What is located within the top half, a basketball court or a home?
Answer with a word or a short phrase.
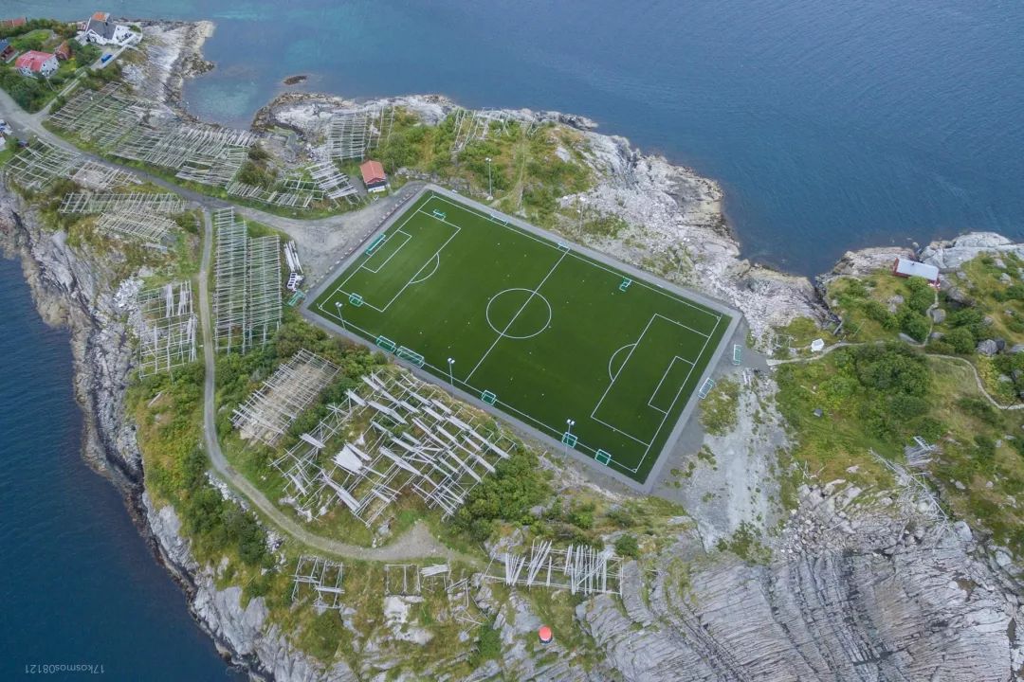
home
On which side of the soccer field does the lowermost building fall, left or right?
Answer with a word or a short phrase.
to the right of it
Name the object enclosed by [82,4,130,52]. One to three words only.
house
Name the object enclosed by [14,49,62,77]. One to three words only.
house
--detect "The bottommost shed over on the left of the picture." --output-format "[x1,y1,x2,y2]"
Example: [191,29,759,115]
[361,159,386,190]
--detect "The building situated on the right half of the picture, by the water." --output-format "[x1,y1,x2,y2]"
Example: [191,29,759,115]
[892,258,938,289]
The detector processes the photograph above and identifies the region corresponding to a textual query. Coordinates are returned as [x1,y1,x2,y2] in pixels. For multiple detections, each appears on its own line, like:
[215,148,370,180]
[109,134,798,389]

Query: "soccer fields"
[300,183,743,493]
